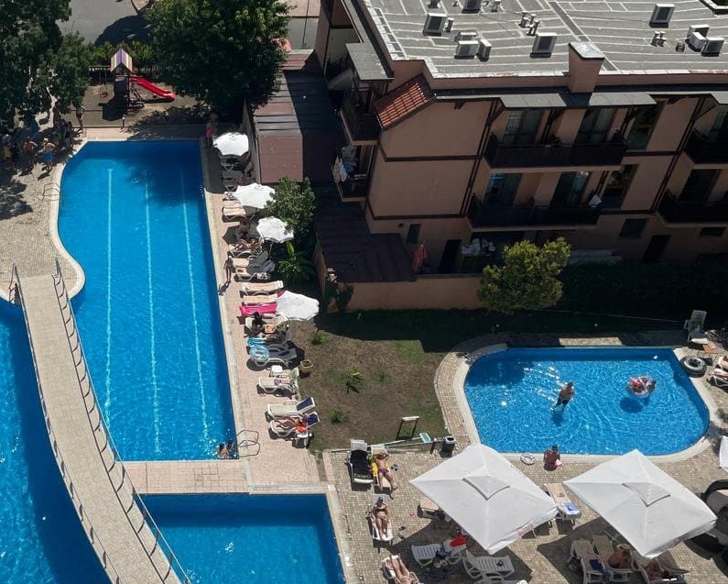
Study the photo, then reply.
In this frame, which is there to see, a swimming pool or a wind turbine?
swimming pool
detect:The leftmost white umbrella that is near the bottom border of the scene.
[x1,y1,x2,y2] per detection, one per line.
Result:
[410,443,557,557]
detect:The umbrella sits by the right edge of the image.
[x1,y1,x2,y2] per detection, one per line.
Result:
[561,450,717,560]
